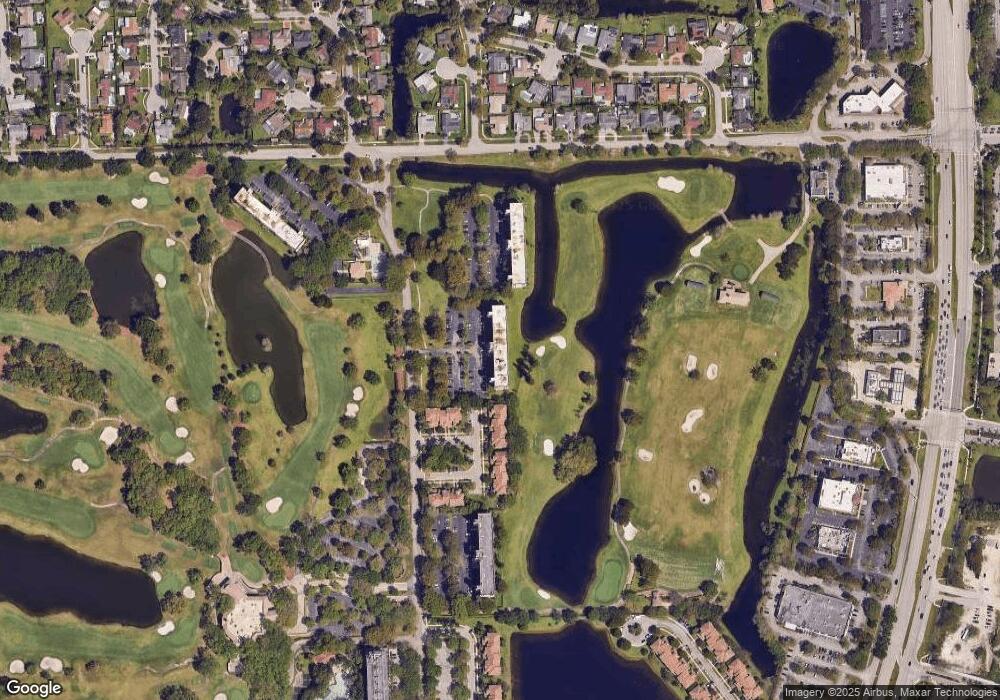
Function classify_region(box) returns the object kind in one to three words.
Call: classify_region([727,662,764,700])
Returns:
house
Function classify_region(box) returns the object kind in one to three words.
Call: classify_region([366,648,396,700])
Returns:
building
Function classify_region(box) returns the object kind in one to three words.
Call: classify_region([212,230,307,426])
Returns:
pond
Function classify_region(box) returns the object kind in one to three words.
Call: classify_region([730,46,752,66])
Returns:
house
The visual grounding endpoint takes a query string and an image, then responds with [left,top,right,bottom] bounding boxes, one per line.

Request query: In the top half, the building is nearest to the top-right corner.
[843,81,904,114]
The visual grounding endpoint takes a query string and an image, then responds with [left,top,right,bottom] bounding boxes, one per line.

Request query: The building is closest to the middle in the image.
[487,305,508,391]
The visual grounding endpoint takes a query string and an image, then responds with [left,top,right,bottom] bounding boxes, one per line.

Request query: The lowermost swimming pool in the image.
[321,663,349,700]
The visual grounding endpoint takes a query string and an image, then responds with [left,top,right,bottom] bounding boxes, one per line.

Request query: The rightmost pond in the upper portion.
[768,21,835,122]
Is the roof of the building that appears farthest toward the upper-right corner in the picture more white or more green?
white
